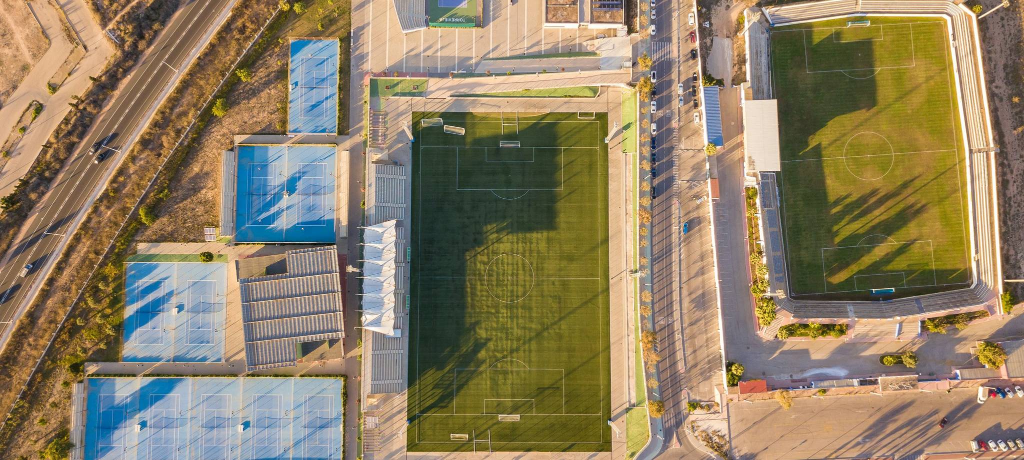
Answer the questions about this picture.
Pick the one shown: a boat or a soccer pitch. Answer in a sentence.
I can see a soccer pitch in this picture.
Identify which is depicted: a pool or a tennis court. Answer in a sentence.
It is a tennis court that can be seen here.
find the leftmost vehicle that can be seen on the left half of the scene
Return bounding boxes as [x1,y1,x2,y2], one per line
[18,263,32,277]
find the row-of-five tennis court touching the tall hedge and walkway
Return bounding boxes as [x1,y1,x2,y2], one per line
[292,378,343,460]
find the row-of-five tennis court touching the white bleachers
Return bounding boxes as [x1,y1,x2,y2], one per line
[84,378,139,460]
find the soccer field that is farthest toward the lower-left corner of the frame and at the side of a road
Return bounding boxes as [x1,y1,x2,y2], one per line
[407,112,611,452]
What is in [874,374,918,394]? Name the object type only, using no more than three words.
house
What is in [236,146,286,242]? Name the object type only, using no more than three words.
tennis court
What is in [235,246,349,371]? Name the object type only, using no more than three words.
building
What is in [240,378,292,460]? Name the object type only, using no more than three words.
tennis court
